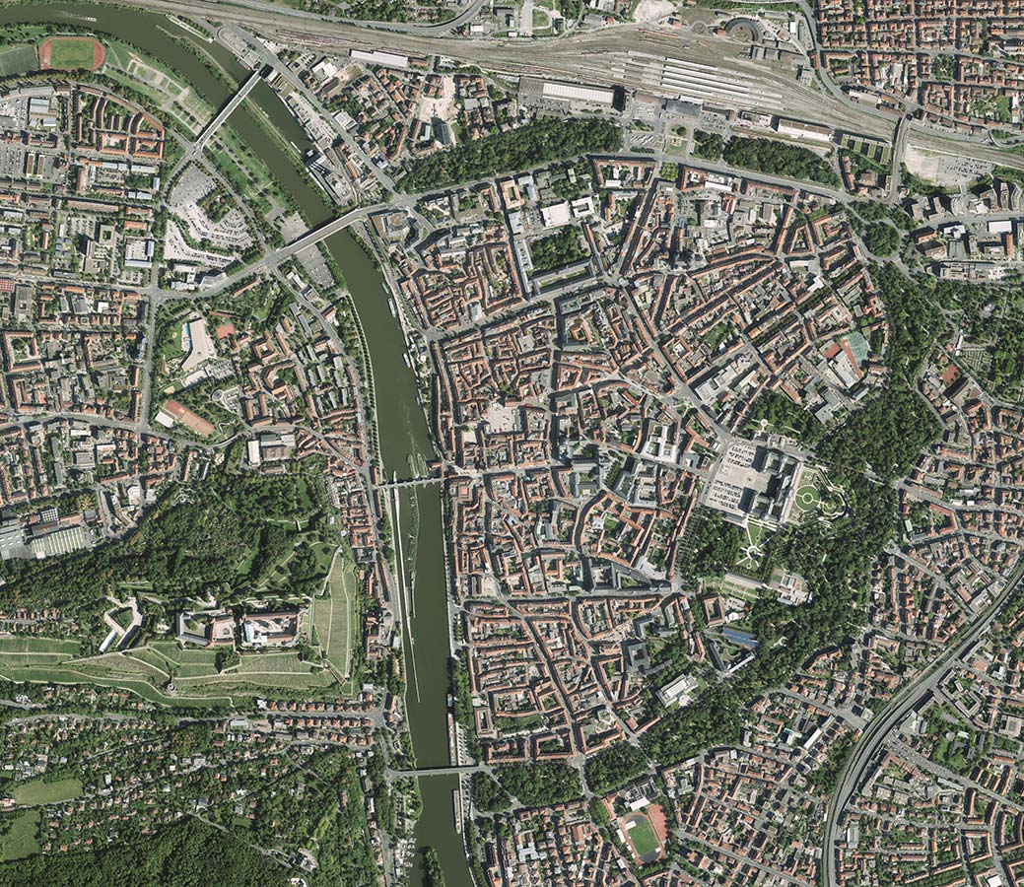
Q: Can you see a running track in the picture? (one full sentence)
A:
Yes, the frame does contain a running track.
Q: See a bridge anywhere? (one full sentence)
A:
Yes, the image includes a bridge.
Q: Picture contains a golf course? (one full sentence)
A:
No, the scene contains no golf course.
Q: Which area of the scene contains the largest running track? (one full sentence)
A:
You can find the largest running track in the top left area of the picture.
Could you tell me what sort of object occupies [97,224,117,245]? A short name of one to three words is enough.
building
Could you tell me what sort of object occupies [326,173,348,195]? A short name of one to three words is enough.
building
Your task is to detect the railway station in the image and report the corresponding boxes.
[611,51,784,116]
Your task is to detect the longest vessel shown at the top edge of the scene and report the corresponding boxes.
[167,14,199,36]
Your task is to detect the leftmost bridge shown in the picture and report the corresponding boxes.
[192,70,263,151]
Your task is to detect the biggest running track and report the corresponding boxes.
[39,37,106,71]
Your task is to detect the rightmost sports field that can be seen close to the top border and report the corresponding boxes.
[51,40,94,67]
